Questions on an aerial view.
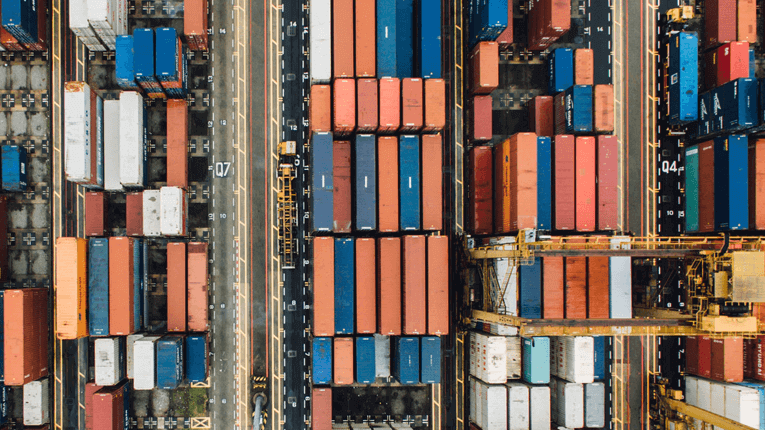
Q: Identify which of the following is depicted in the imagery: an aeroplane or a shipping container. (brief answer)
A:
shipping container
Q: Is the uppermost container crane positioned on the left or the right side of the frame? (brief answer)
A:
right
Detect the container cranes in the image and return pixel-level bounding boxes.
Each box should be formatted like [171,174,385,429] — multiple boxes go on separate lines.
[453,227,765,345]
[644,375,765,430]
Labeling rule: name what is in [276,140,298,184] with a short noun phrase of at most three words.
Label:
truck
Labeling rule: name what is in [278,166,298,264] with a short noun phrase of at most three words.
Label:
trailer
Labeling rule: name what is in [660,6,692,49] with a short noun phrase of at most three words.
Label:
truck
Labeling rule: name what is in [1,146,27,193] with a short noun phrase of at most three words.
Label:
shipping container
